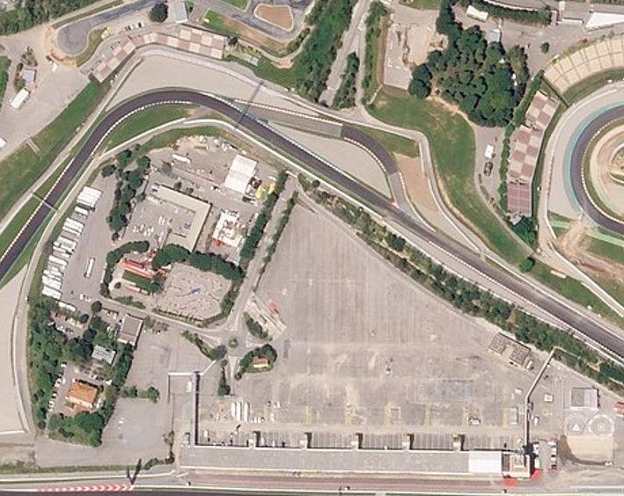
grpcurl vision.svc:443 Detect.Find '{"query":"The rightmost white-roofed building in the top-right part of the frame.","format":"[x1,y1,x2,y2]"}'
[587,12,624,30]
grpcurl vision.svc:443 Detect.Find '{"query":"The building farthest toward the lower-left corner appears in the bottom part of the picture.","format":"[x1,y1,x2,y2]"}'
[68,381,99,418]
